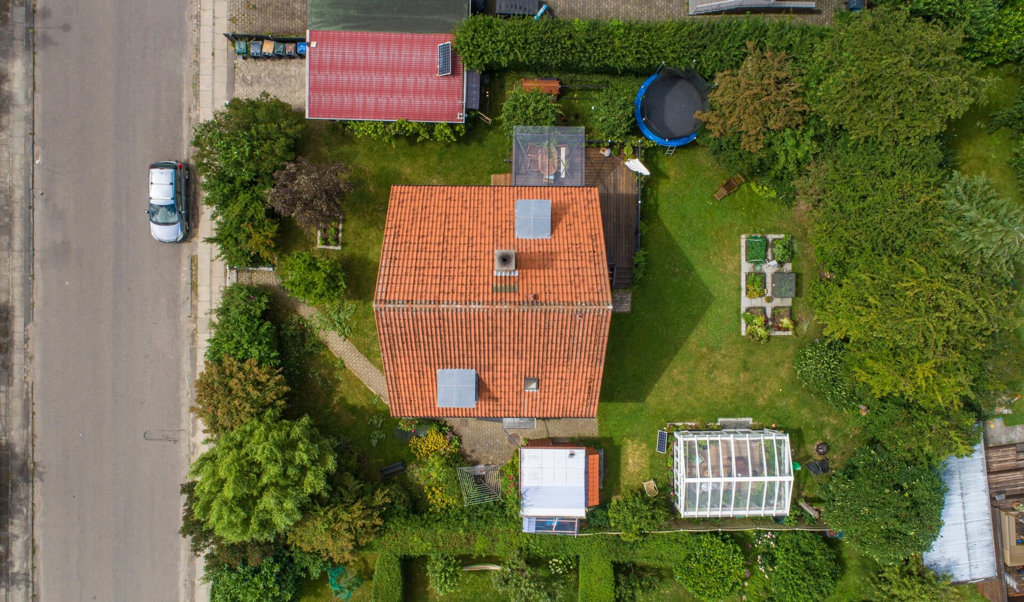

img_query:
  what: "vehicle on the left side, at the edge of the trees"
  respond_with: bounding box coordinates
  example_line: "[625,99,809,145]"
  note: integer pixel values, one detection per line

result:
[143,161,192,244]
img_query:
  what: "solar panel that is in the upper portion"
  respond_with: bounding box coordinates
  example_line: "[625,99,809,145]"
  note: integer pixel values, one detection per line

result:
[438,42,452,76]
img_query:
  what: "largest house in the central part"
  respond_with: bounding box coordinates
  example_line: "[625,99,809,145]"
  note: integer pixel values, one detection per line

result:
[372,183,614,429]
